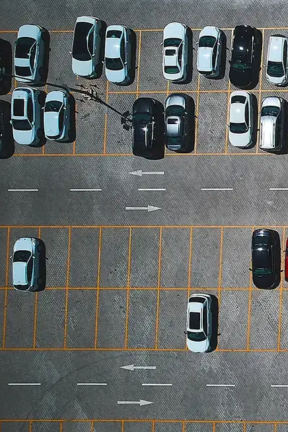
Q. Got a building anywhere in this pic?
No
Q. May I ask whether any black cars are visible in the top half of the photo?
Yes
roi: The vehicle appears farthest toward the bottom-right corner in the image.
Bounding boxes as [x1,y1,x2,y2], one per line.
[182,293,215,352]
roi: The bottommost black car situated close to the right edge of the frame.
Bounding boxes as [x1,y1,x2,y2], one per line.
[247,228,279,289]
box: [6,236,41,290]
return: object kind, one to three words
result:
car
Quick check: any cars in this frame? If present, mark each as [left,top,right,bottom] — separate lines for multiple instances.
[281,236,288,283]
[247,228,279,289]
[160,93,192,151]
[6,236,41,290]
[69,16,104,78]
[225,91,255,148]
[100,25,134,82]
[38,92,72,140]
[4,88,41,144]
[127,97,161,156]
[261,34,288,86]
[159,24,191,81]
[11,26,47,84]
[226,25,260,88]
[193,27,224,75]
[256,97,287,151]
[182,293,215,352]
